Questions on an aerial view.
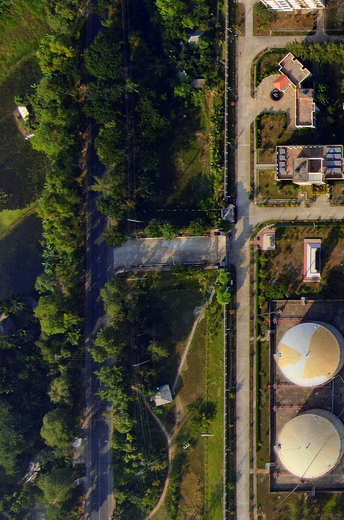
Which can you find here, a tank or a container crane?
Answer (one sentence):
I can see a tank in this picture.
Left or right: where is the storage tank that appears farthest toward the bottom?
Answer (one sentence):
The storage tank that appears farthest toward the bottom is on the right side of the image.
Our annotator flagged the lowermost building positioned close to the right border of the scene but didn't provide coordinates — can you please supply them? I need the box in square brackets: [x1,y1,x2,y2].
[276,146,344,184]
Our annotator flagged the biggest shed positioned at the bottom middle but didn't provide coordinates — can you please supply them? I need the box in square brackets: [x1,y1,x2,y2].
[155,385,174,406]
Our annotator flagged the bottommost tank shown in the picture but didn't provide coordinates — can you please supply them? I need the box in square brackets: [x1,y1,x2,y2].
[276,409,344,479]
